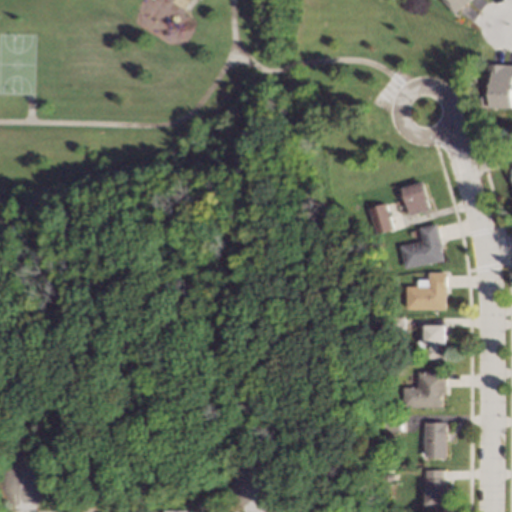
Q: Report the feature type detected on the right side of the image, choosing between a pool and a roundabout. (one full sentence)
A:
The feature located on the right side of the image is a roundabout.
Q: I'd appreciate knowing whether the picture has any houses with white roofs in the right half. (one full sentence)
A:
Yes, you'll find a house with a white roof in the right half.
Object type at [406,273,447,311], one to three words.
house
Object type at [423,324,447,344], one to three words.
house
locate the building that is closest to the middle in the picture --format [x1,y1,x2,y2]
[370,204,394,234]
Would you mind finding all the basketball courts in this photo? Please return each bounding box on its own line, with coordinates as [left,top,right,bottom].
[0,32,38,96]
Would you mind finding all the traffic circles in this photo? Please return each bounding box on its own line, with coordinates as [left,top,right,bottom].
[390,77,458,146]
